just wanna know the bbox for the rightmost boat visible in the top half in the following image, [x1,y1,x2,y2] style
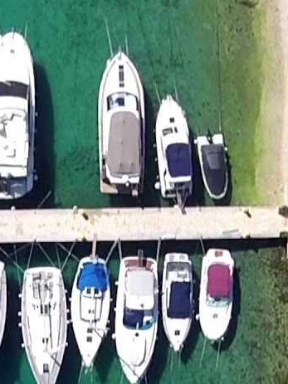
[194,98,230,199]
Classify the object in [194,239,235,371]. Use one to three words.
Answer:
boat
